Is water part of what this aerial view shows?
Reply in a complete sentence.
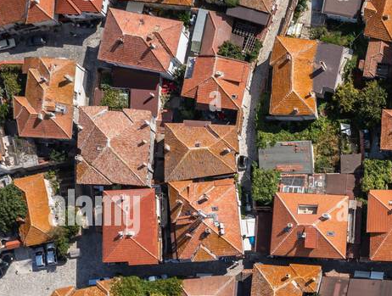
No, the scene doesn't show any water.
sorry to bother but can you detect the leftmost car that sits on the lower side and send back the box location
[0,257,14,278]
